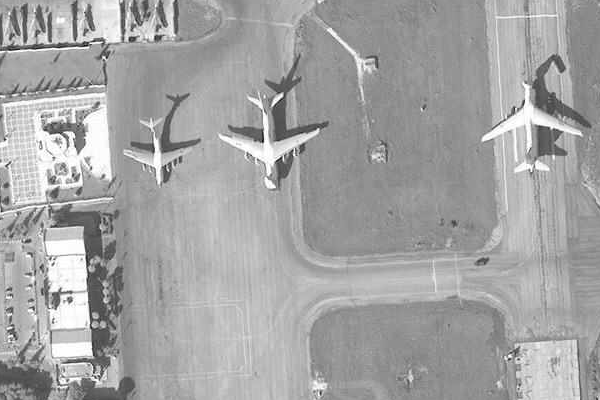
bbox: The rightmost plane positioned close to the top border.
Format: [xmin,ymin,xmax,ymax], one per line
[149,6,163,36]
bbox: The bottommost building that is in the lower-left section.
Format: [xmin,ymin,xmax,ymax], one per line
[60,363,92,379]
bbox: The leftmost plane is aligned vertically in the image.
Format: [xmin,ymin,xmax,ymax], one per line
[3,13,17,43]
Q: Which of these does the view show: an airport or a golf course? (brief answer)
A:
airport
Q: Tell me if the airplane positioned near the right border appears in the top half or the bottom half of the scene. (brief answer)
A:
top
